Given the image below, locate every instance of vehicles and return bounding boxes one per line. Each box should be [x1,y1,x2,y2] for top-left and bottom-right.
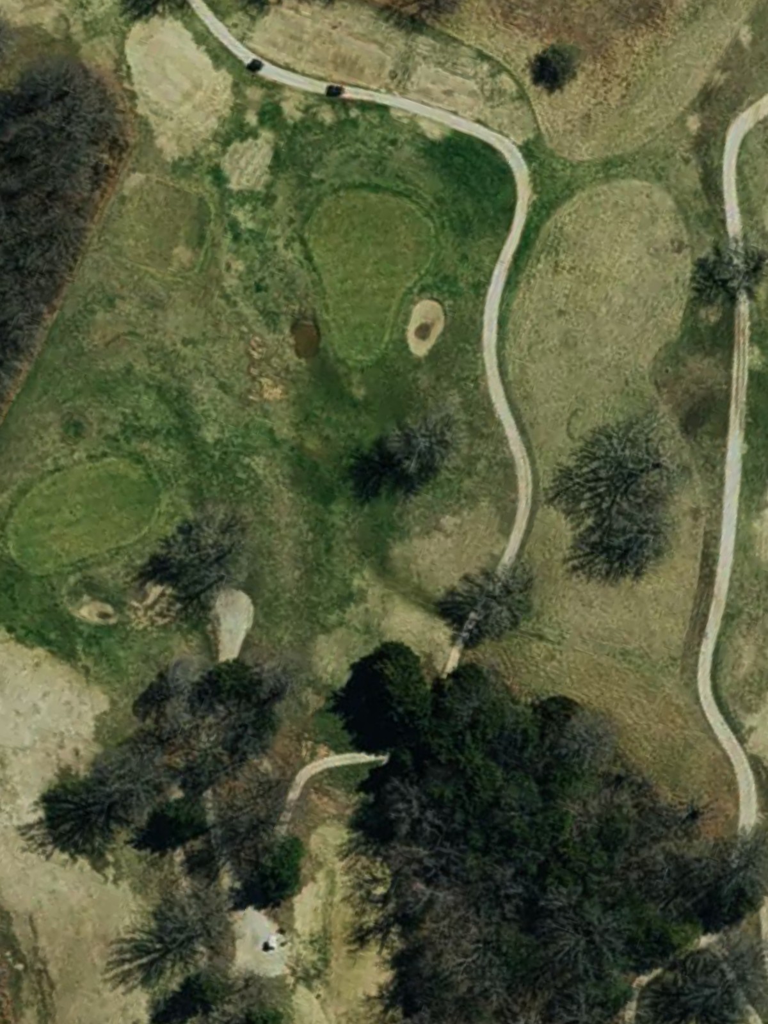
[328,85,343,95]
[248,58,264,70]
[269,932,279,947]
